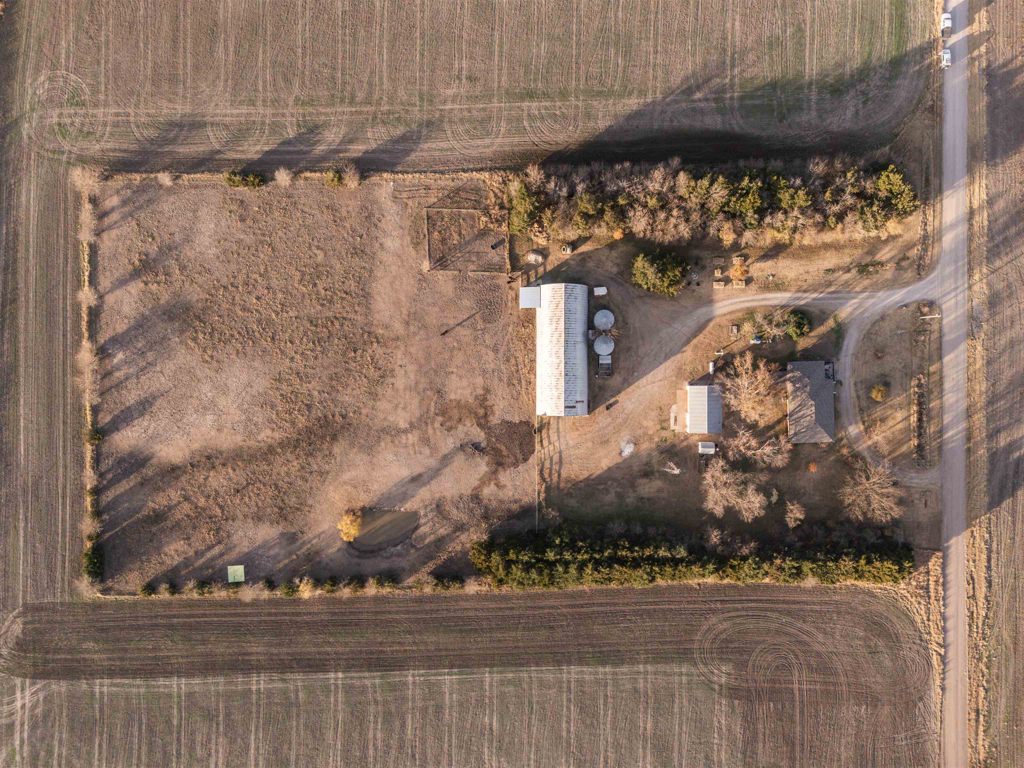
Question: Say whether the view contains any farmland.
Yes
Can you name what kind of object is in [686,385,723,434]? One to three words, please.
building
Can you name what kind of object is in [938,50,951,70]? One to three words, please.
vehicle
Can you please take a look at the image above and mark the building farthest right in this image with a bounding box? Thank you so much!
[786,361,837,442]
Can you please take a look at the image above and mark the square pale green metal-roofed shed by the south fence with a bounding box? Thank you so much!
[227,564,248,582]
